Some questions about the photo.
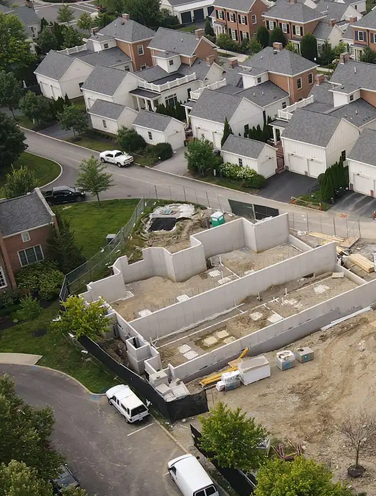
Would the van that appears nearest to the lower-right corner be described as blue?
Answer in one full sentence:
No, the van that appears nearest to the lower-right corner is white.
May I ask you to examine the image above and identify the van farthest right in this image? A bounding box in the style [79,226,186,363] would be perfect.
[162,448,227,496]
